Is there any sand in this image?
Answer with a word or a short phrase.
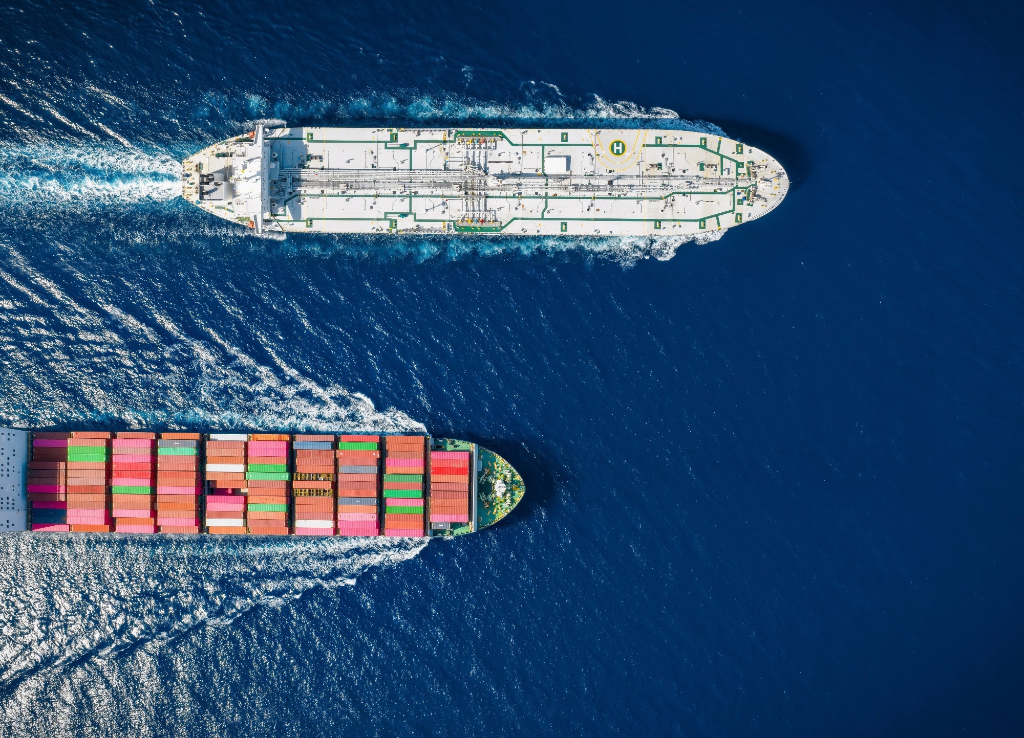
No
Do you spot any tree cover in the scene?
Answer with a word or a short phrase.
No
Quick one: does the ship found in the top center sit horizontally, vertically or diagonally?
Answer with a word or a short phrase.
horizontally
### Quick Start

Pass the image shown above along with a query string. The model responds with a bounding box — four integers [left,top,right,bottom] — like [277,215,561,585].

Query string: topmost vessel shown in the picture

[181,123,791,239]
